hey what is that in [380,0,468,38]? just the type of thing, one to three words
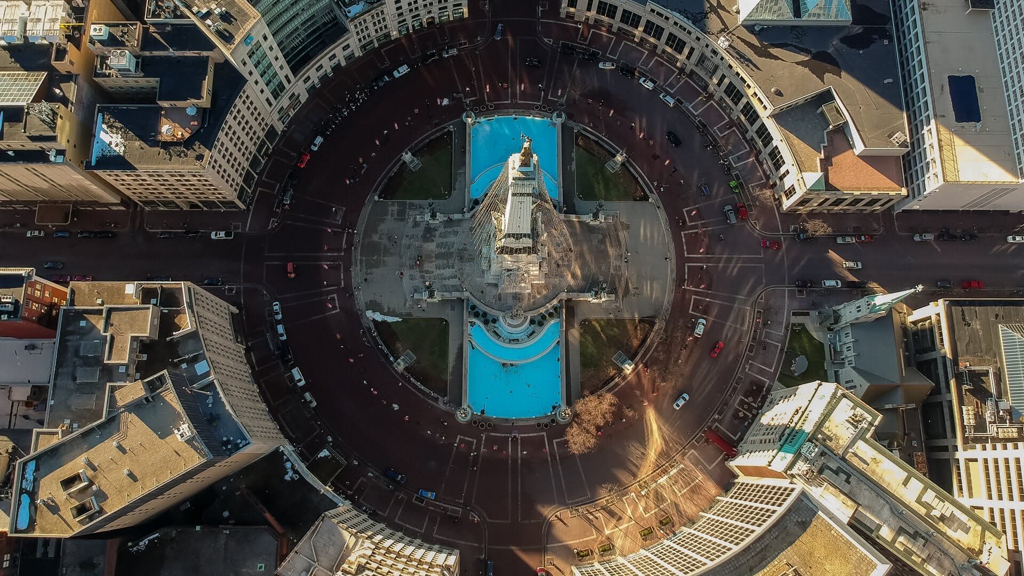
building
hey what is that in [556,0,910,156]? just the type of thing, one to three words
building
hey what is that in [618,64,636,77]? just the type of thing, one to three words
vehicle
